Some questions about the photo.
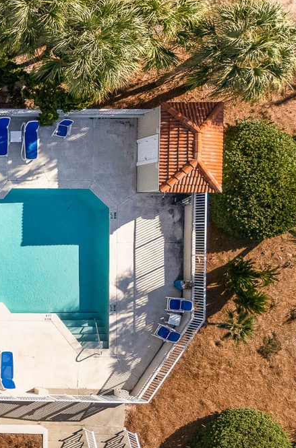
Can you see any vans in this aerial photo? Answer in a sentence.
No, no van can be seen from above.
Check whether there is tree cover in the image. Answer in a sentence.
Yes, the picture does contain tree cover.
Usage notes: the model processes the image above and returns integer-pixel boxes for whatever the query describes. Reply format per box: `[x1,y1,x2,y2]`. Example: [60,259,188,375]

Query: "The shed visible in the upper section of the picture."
[135,100,225,194]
